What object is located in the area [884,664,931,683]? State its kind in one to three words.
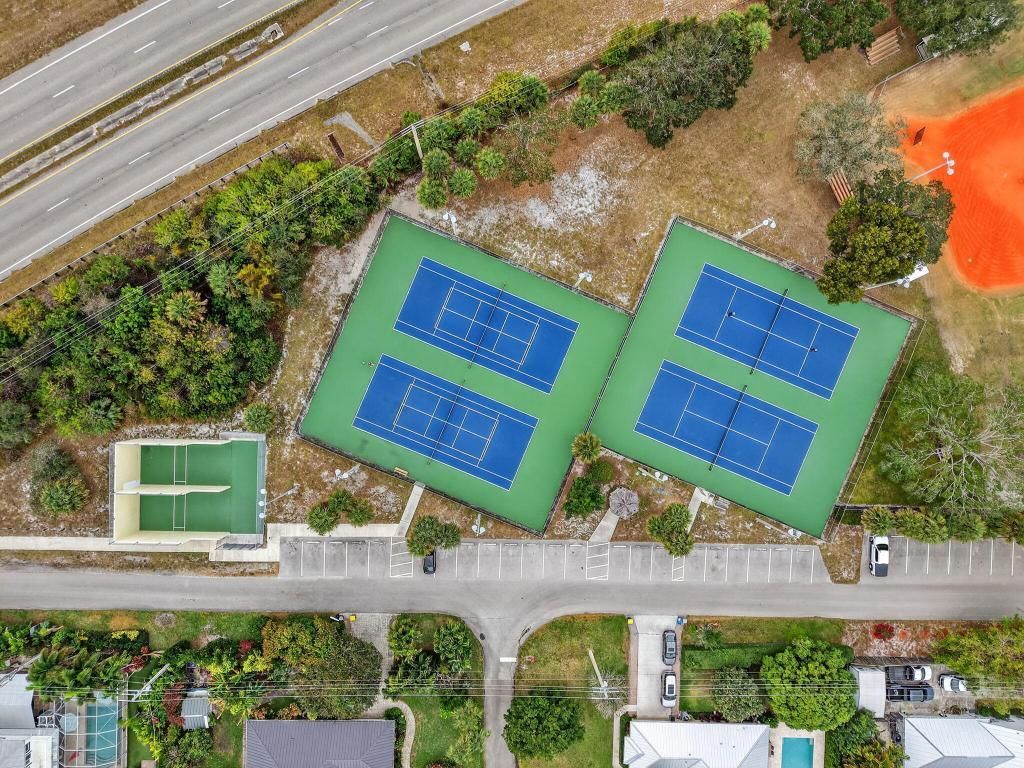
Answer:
vehicle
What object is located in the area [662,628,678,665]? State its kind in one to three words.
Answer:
car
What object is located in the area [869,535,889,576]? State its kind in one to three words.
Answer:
vehicle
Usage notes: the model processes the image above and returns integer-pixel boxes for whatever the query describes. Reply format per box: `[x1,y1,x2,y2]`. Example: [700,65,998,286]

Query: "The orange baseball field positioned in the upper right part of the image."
[887,67,1024,311]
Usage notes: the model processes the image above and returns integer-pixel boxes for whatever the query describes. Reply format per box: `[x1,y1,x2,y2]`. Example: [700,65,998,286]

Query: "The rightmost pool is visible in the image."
[770,722,828,768]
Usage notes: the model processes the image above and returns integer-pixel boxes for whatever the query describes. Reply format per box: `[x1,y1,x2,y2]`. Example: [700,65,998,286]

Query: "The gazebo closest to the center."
[608,486,638,516]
